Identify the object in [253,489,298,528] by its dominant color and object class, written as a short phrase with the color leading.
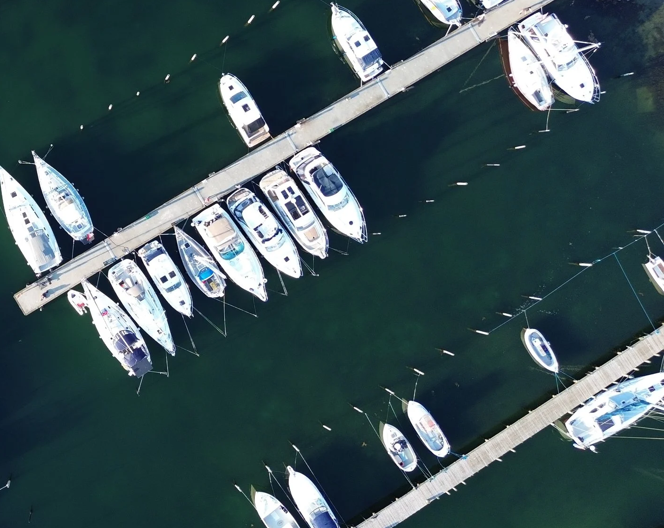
white boat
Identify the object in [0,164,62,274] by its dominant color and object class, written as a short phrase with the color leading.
white boat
